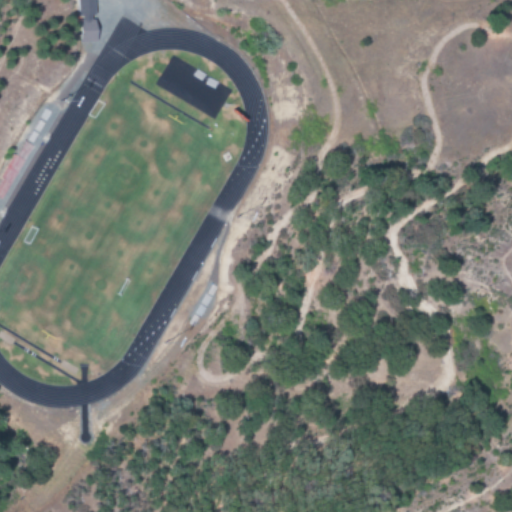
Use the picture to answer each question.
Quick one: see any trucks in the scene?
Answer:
No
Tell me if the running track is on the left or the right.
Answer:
left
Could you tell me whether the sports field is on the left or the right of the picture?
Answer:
left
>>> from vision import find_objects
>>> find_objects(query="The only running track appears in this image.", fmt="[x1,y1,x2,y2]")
[0,17,269,407]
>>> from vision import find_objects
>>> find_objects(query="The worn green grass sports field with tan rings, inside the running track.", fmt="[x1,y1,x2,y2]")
[0,50,247,385]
